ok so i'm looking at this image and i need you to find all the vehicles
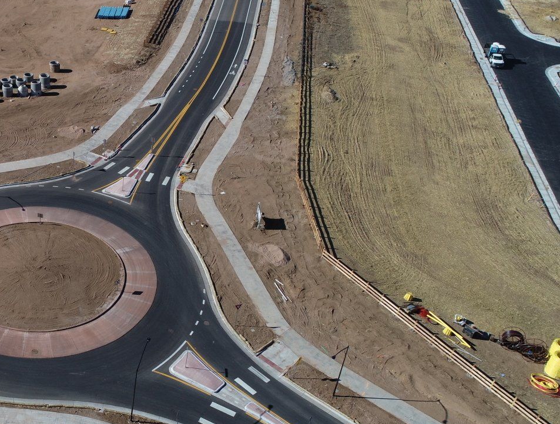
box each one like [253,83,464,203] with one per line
[488,47,507,68]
